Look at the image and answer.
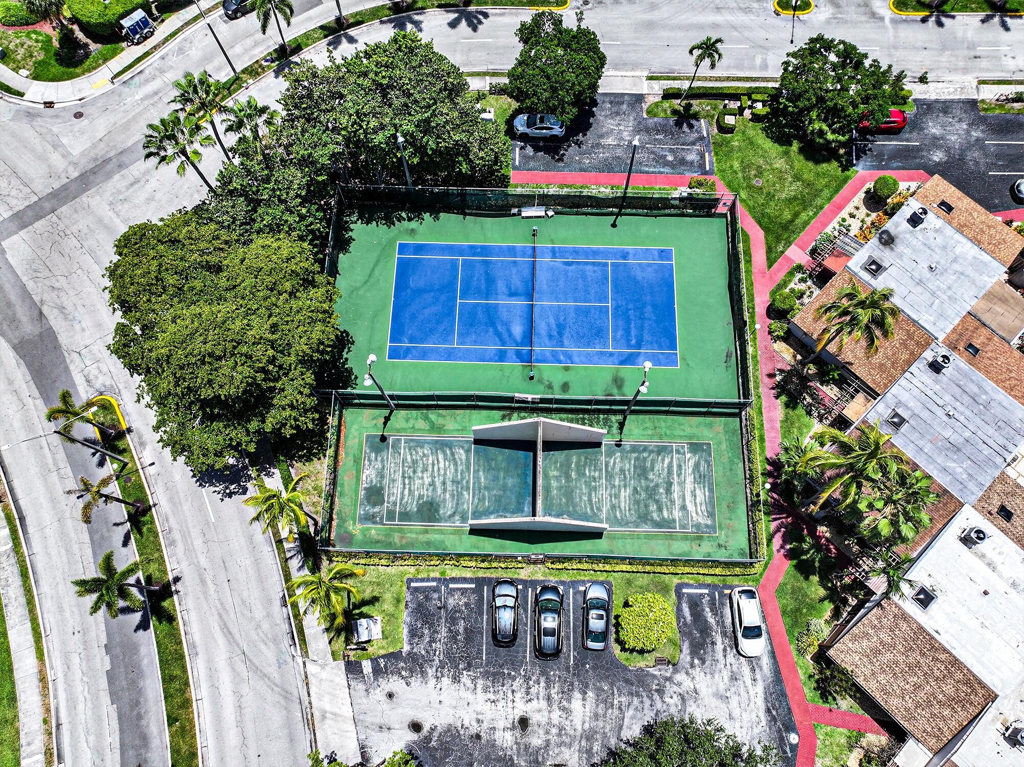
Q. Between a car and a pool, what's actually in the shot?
car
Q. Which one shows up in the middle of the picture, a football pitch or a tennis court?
tennis court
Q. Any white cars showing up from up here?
Yes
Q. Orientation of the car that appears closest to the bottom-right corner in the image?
up and down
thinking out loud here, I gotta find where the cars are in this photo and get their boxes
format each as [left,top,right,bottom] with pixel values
[514,113,565,140]
[531,584,566,661]
[854,107,909,135]
[581,582,614,653]
[222,0,265,21]
[730,586,769,658]
[1008,181,1024,205]
[487,579,521,647]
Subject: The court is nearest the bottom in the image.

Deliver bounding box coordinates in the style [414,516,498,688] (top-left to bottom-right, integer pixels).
[332,403,751,563]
